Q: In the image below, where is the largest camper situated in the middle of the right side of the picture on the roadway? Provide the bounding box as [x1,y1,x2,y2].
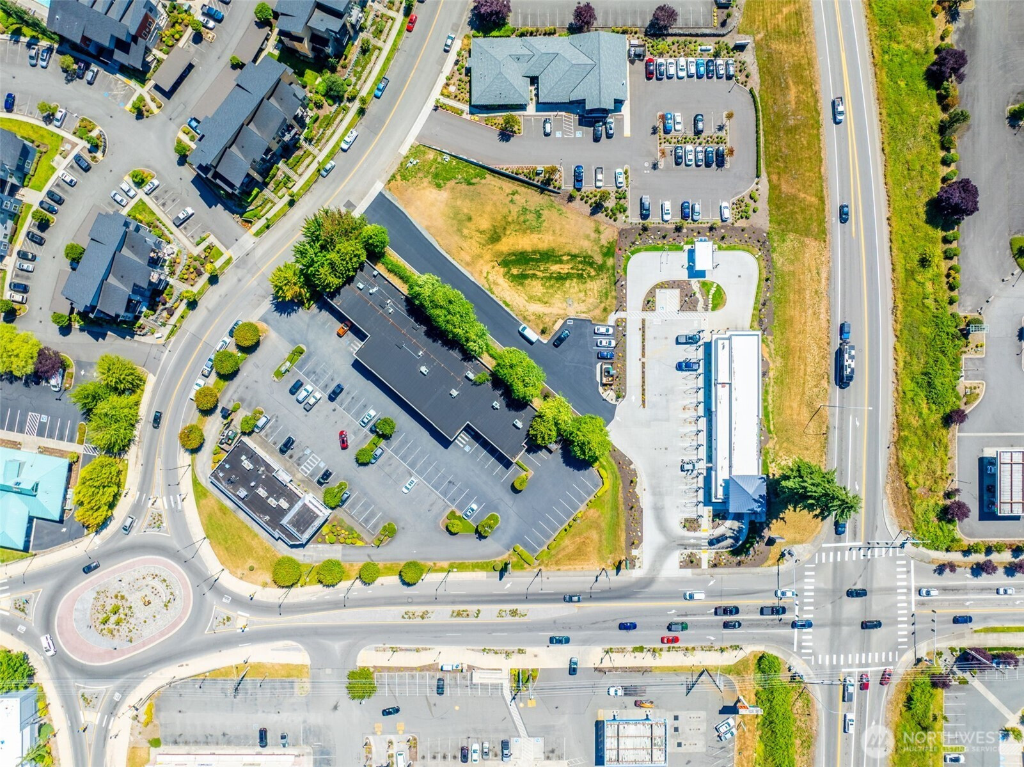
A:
[836,341,853,388]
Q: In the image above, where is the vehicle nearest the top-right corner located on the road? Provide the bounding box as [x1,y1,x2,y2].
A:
[833,98,845,123]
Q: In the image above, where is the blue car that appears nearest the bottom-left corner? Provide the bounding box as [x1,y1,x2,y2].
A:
[80,560,102,574]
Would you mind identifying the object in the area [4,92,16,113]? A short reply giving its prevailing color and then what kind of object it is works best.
blue vehicle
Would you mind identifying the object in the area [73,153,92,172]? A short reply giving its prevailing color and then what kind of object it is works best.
blue car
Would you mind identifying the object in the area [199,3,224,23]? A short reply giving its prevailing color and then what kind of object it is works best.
blue vehicle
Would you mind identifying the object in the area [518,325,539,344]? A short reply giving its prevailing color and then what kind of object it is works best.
white vehicle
